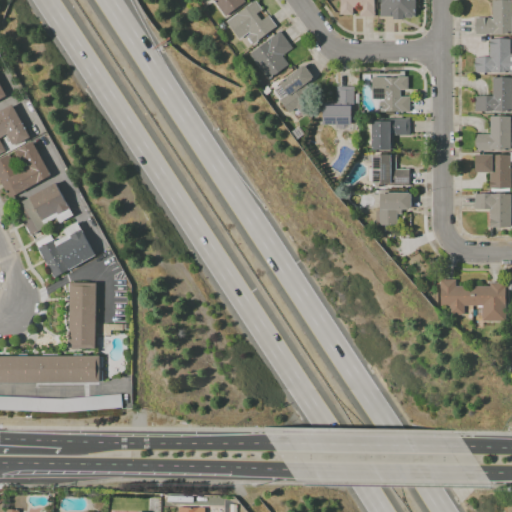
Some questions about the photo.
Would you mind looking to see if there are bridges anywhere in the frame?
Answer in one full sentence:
Yes, there is a bridge in the image.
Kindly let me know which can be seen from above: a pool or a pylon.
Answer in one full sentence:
Of the two, only a pool appears.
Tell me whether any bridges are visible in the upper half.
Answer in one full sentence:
No, no bridge can be made out in the upper half.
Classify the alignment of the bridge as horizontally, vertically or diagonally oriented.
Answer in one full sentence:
I'd say the bridge is aligned horizontally in the picture.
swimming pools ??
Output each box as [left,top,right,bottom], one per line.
[102,334,126,378]
[362,74,380,112]
[328,136,356,178]
[346,162,372,186]
[26,494,50,512]
[58,496,98,512]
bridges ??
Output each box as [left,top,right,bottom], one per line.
[262,428,494,486]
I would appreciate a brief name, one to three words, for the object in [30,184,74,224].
building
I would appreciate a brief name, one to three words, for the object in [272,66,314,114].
house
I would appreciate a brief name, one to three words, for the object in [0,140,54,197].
building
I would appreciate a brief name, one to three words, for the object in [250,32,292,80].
house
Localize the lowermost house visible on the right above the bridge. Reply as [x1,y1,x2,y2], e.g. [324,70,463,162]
[440,280,506,320]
